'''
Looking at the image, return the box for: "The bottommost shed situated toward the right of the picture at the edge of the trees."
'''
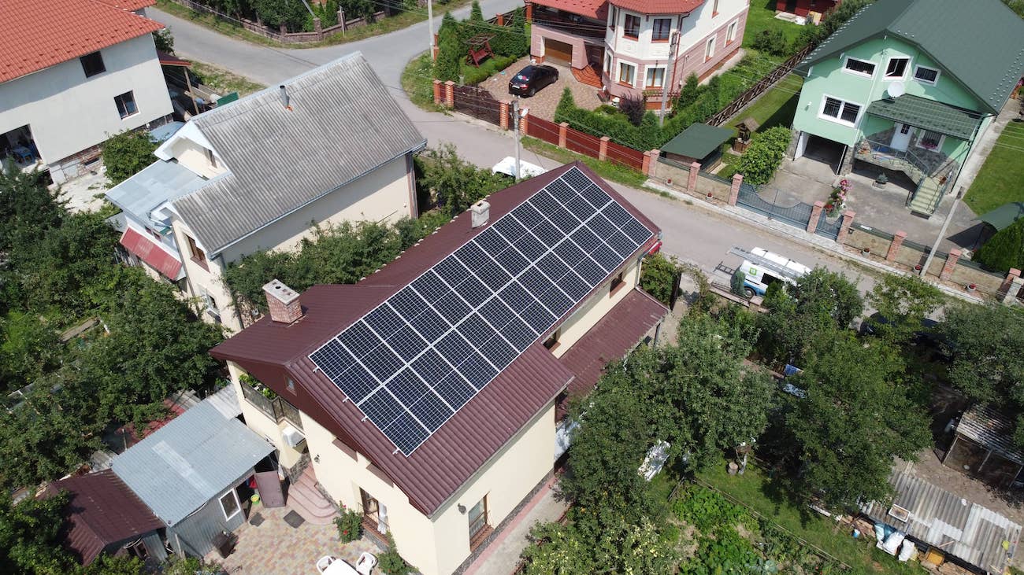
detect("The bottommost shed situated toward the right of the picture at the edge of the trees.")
[854,464,1024,575]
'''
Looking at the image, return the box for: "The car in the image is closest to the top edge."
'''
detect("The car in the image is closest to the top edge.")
[505,58,561,94]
